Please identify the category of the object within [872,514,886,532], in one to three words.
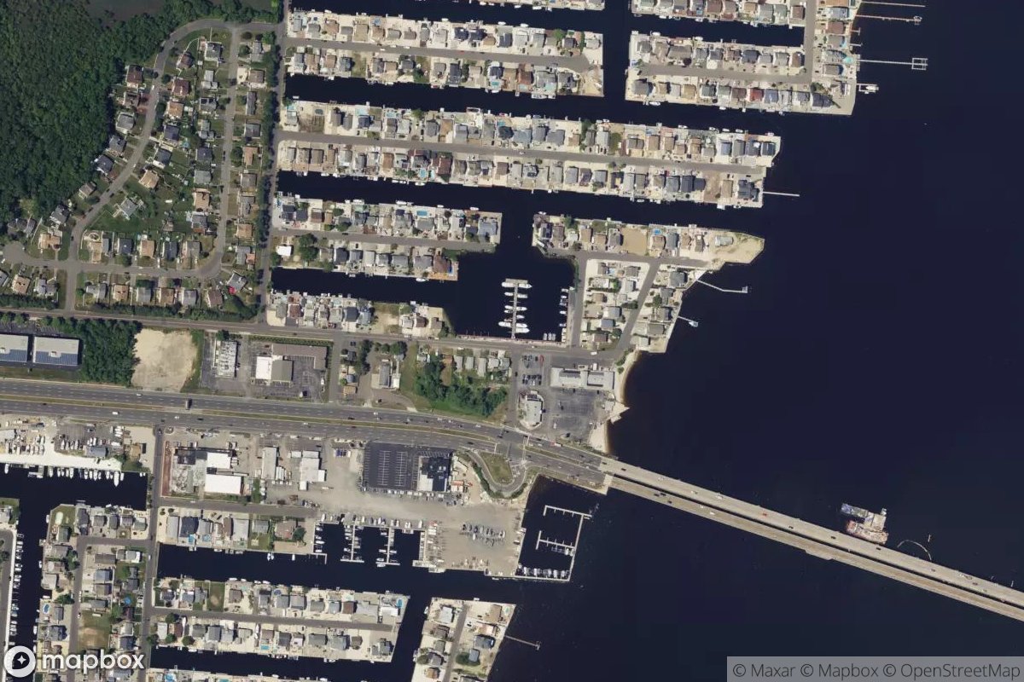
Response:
ship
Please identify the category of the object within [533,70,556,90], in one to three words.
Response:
house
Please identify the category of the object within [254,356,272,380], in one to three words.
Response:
building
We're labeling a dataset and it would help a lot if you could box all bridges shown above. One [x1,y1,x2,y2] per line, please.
[598,458,1024,608]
